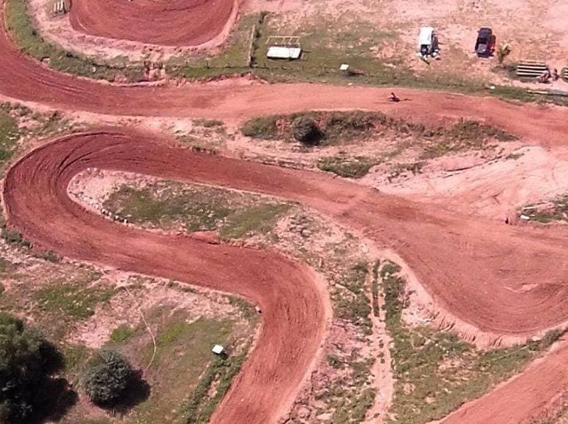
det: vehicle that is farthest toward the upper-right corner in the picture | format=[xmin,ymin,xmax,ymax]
[476,32,492,57]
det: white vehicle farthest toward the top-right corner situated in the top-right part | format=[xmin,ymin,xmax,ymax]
[418,31,436,56]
